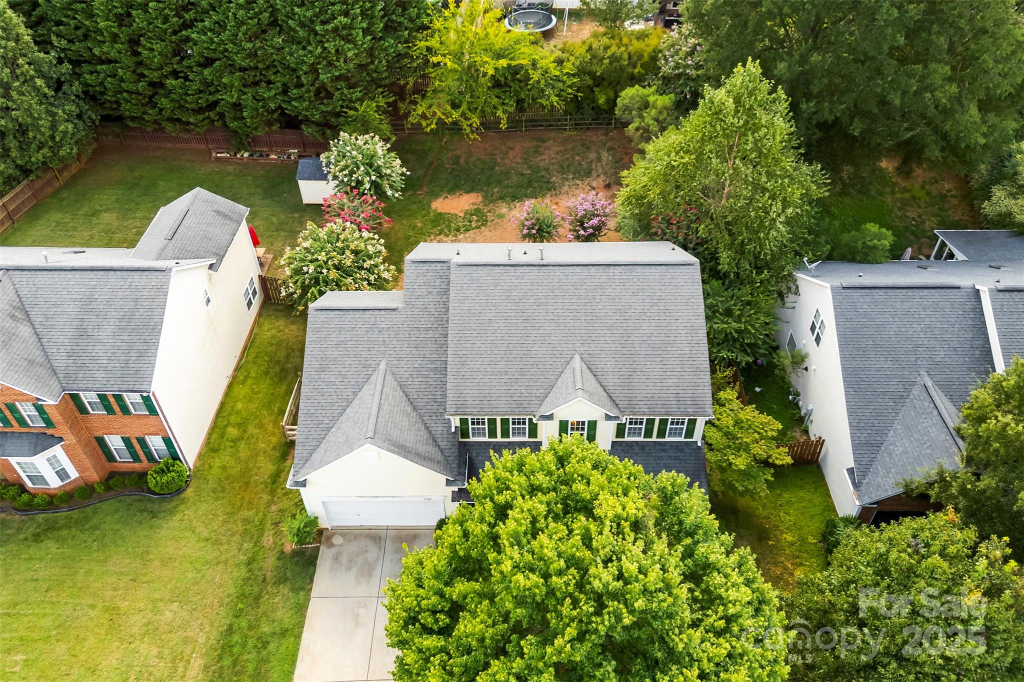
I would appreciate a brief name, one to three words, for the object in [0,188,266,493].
house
